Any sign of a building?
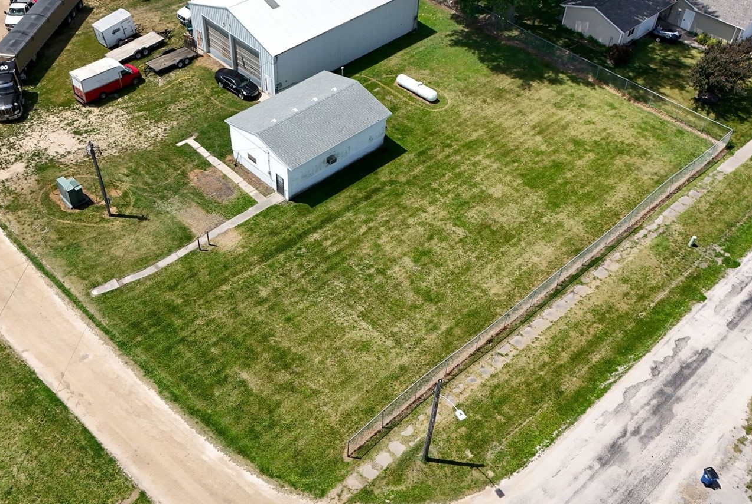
Yes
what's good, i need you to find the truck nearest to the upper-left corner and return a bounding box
[0,0,40,27]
